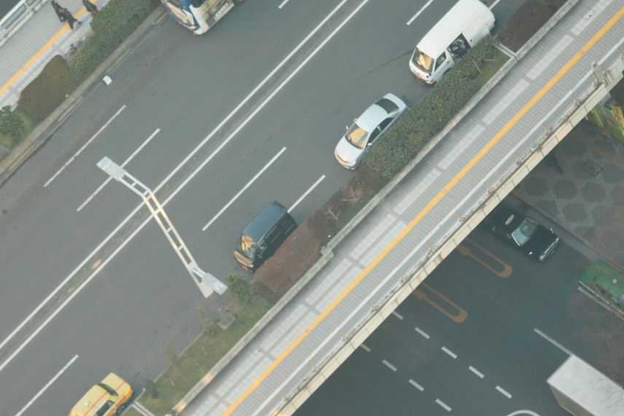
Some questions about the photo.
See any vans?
Yes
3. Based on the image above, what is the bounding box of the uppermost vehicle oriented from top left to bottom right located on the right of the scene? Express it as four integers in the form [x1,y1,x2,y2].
[482,201,561,266]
